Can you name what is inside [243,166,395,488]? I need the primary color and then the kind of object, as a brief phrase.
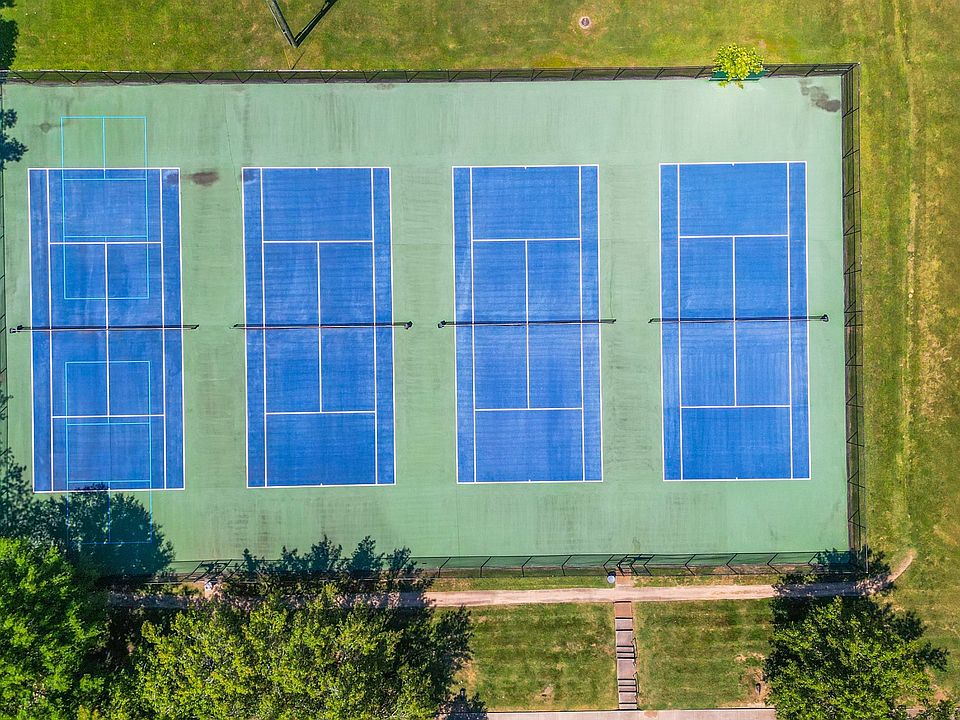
blue tennis court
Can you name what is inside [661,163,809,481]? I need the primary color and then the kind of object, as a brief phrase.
blue tennis court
